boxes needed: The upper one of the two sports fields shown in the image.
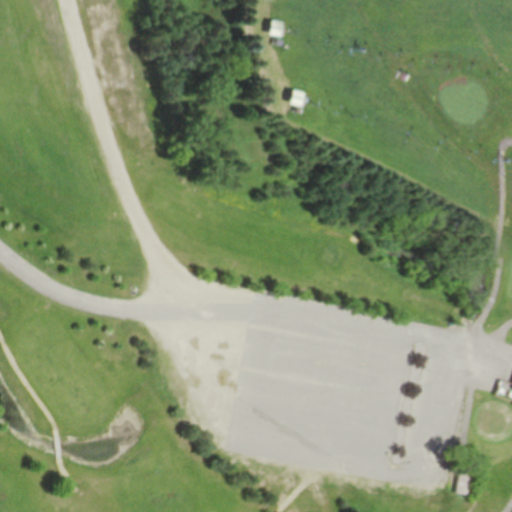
[438,76,488,125]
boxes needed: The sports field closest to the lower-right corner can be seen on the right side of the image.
[471,400,512,440]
